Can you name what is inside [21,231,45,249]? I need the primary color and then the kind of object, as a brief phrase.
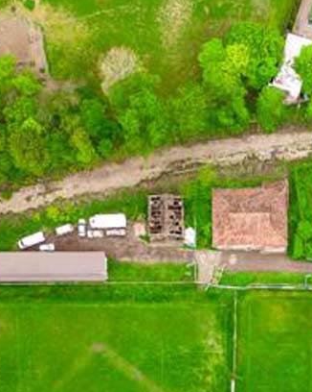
white vehicle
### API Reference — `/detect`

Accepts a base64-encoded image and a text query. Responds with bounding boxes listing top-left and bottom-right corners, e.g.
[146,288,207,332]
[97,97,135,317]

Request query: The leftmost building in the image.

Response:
[146,193,186,246]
